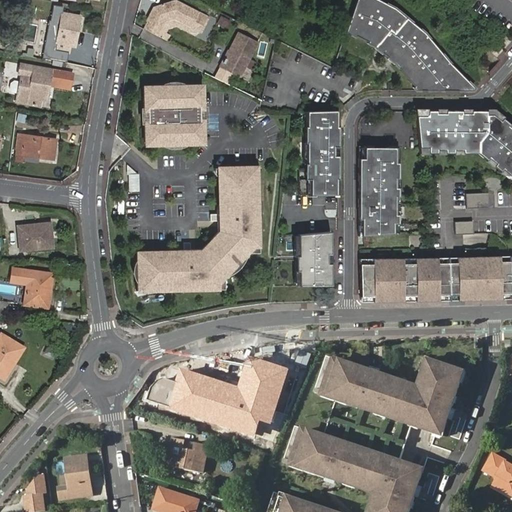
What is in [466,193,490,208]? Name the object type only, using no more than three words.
building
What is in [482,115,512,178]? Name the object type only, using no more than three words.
building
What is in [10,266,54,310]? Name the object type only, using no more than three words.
house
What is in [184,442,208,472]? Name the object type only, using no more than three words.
house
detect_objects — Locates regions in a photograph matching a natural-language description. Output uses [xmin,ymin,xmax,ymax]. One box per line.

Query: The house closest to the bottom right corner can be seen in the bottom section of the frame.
[482,452,512,498]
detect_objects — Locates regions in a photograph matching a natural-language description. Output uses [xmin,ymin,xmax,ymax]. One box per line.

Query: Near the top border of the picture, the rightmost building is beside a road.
[349,0,477,90]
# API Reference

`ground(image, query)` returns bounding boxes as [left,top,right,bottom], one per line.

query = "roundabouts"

[76,335,140,408]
